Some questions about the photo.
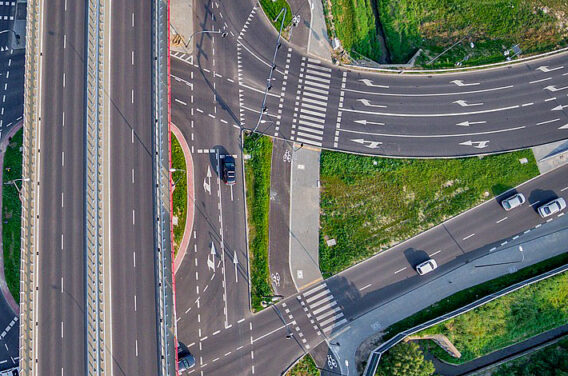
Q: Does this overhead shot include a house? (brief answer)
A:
No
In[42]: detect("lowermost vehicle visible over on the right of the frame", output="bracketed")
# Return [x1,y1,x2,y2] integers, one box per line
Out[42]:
[413,258,438,277]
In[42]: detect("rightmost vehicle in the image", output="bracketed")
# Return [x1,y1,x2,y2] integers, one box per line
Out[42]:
[535,198,566,219]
